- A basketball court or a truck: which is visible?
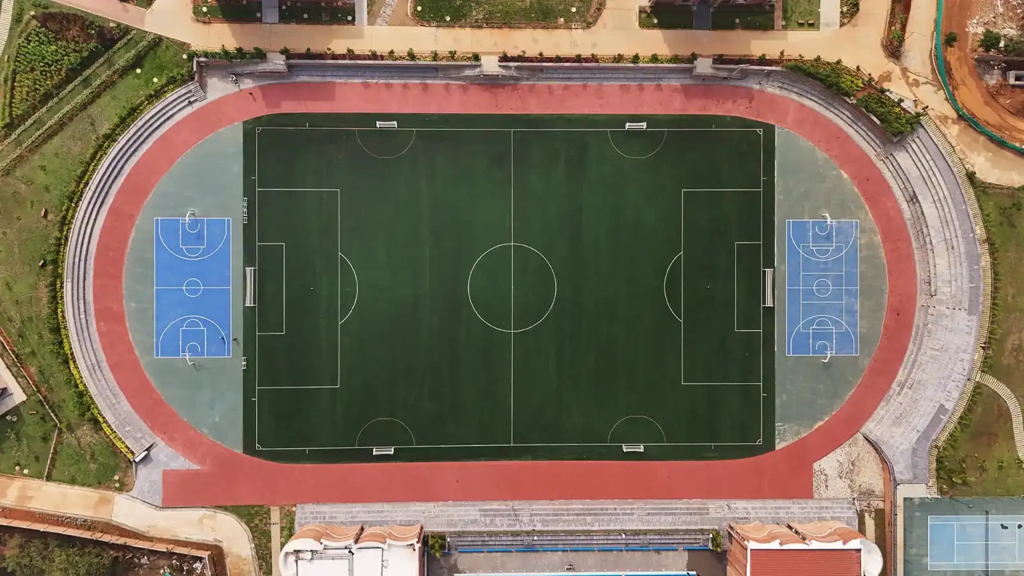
basketball court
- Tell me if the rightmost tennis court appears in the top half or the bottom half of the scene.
bottom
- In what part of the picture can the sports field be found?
center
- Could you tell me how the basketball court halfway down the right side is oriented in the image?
up and down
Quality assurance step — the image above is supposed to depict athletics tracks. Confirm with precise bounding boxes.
[93,83,919,506]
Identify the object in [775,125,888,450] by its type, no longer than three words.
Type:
basketball court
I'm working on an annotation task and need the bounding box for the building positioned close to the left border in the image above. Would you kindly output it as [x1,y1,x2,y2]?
[0,343,37,416]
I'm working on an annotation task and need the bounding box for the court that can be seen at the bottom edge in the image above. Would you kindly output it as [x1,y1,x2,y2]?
[903,497,1024,576]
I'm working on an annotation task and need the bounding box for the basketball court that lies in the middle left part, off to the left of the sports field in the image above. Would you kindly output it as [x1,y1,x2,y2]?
[124,123,243,452]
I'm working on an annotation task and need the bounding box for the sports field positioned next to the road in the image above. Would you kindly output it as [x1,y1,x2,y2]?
[243,114,775,461]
